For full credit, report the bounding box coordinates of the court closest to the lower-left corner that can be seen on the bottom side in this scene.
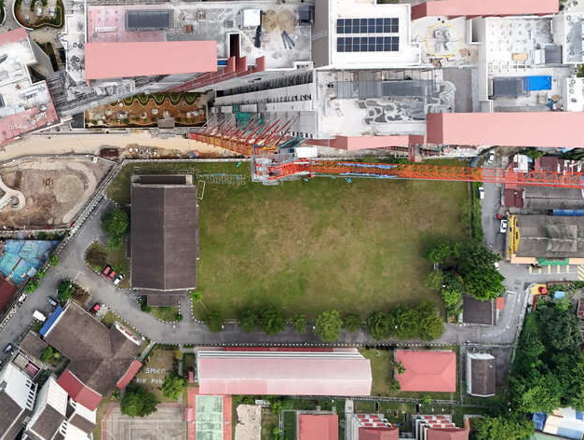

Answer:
[105,404,186,440]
